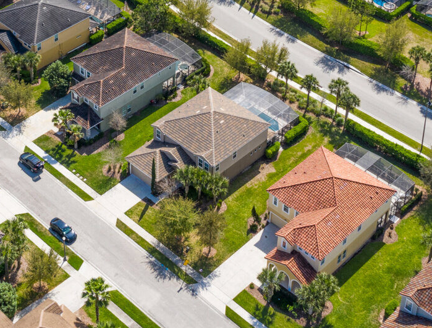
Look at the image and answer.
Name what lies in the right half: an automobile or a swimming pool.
swimming pool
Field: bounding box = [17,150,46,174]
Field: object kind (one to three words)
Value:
car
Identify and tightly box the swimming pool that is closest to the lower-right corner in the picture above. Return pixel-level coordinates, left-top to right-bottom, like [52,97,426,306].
[379,196,408,228]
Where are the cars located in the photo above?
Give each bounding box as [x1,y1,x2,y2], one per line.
[17,150,46,174]
[48,216,77,242]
